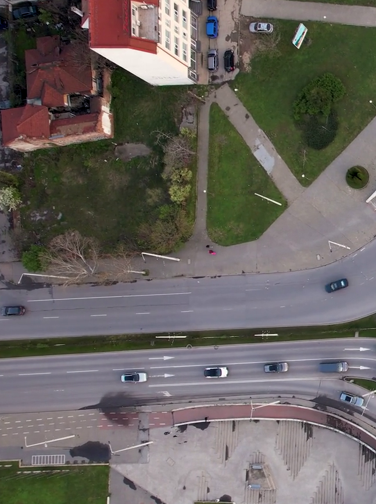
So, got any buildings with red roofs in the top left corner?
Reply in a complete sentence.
Yes, I can see a building with a red roof in the top left corner.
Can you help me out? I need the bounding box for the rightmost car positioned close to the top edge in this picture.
[251,22,274,35]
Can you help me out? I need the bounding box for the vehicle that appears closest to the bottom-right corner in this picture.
[340,392,365,407]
